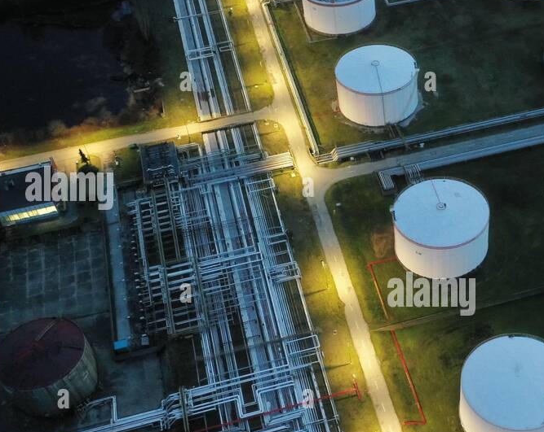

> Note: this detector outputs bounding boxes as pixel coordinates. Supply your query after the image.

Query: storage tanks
[386,176,491,281]
[300,0,379,35]
[0,318,101,420]
[456,331,544,432]
[334,41,423,129]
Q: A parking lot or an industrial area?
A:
industrial area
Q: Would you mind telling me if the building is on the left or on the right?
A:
left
